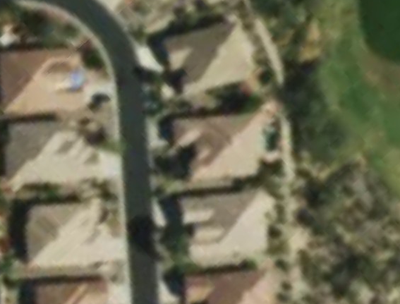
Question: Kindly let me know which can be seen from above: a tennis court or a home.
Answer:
home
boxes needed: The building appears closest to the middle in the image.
[175,107,270,177]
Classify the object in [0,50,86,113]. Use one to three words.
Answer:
house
